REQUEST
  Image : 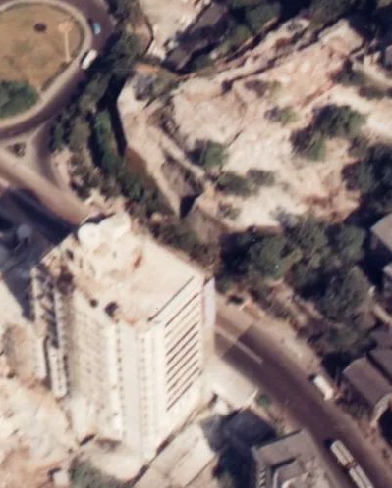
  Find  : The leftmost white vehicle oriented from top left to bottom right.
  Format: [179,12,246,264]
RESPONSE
[315,377,332,397]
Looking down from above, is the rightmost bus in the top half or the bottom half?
bottom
